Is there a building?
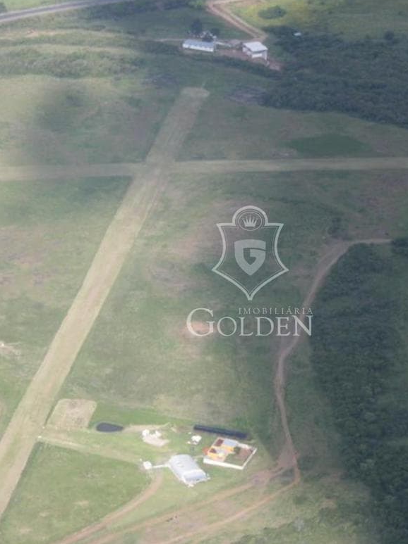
Yes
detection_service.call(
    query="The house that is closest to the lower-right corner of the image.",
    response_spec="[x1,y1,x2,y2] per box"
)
[206,438,251,463]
